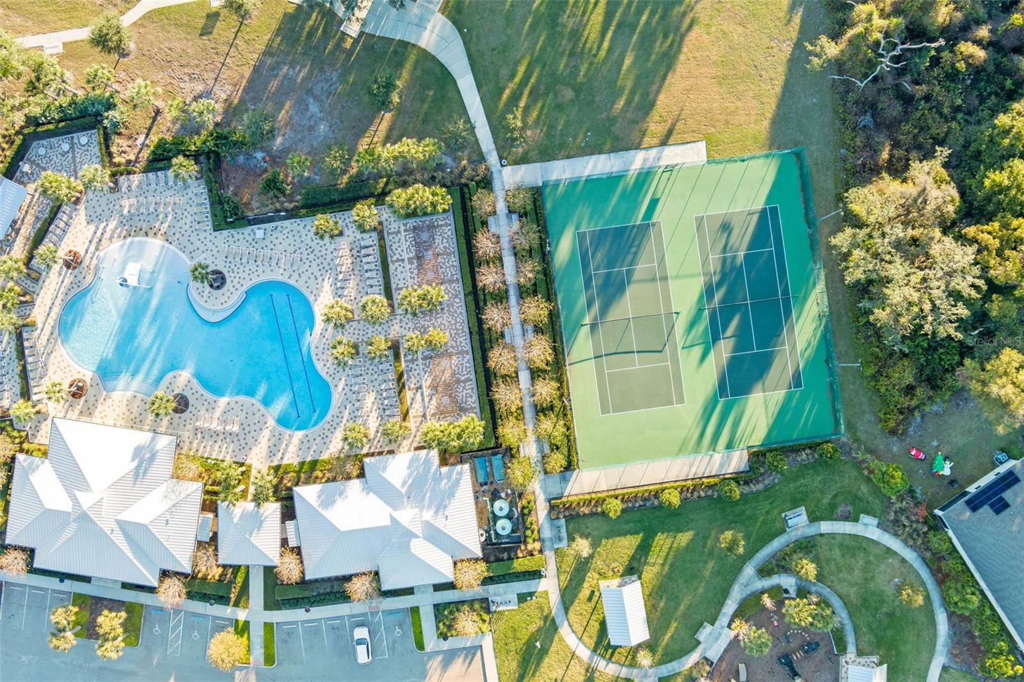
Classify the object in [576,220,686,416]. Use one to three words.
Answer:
tennis court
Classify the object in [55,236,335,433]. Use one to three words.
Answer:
swimming pool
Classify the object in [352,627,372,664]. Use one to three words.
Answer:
car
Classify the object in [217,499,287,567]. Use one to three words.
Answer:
building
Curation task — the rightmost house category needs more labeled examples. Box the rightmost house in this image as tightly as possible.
[931,447,1024,654]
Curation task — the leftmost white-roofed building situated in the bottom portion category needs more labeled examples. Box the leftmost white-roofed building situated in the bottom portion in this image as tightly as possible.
[5,417,207,587]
